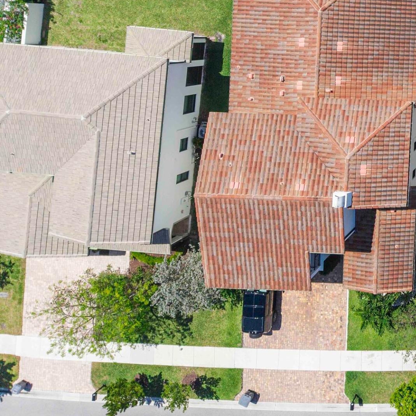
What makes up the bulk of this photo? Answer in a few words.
buildings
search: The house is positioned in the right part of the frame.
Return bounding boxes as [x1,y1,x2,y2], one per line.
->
[192,0,416,294]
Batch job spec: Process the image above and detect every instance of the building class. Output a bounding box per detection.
[0,24,209,258]
[192,0,416,294]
